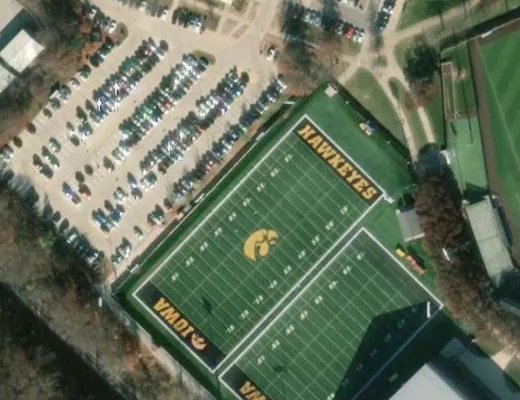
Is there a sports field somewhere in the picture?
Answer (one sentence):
Yes, a sports field is visible in the scene.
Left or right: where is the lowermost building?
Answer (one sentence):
The lowermost building appears in the right half of the scene.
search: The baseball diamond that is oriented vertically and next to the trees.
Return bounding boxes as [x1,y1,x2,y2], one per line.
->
[471,19,520,294]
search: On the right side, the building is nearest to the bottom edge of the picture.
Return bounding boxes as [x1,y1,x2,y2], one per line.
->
[391,353,483,400]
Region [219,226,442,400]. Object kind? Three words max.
sports field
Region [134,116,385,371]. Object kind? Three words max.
sports field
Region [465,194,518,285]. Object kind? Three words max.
building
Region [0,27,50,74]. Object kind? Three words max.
building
